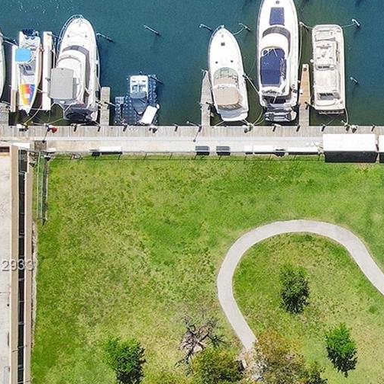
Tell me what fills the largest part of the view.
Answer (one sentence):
For the most part, this view shows grass.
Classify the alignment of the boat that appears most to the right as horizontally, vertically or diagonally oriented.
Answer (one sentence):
From this overhead view, the boat that appears most to the right appears to run vertically.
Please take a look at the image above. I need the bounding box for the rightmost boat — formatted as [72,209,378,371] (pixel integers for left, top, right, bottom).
[310,21,348,118]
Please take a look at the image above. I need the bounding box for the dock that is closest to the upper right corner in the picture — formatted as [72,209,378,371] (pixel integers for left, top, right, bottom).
[298,63,312,125]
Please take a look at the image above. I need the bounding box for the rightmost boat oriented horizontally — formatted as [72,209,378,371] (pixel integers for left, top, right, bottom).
[259,107,297,122]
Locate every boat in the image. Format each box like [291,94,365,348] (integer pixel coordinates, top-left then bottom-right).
[12,21,43,116]
[310,21,348,118]
[0,26,11,103]
[208,19,253,125]
[131,75,151,114]
[49,10,107,122]
[259,107,297,122]
[254,0,304,125]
